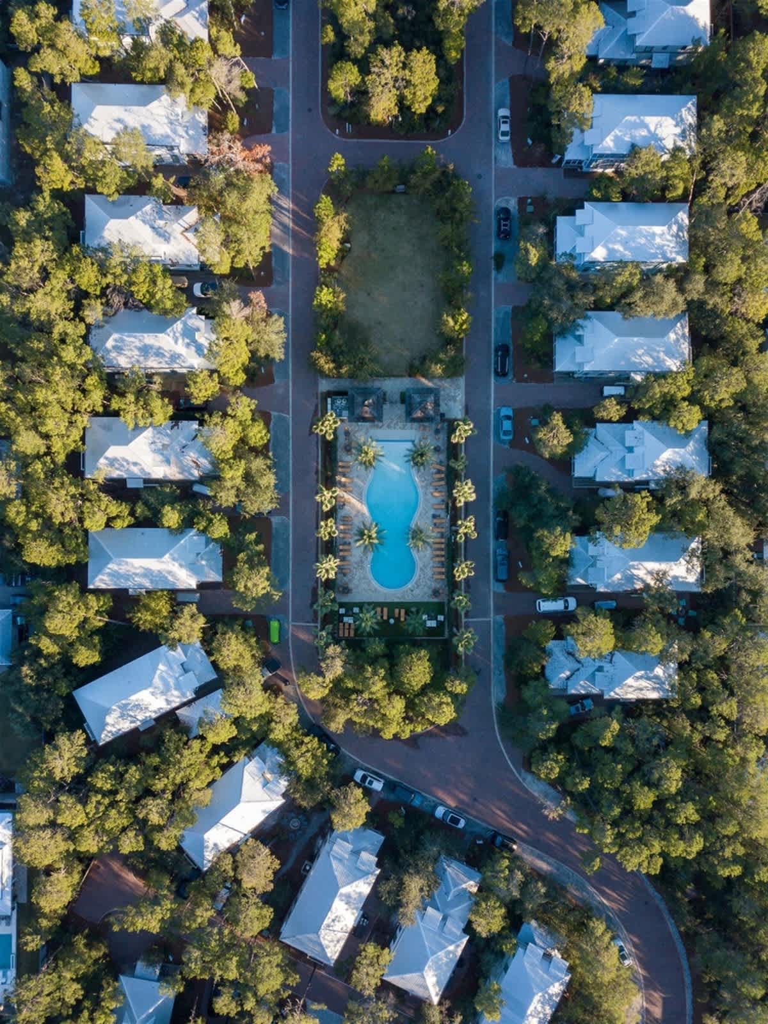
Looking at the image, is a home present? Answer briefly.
Yes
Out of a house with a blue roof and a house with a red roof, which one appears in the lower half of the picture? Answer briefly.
house with a blue roof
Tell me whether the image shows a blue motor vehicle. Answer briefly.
Yes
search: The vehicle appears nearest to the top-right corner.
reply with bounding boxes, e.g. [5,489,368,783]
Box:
[497,106,513,140]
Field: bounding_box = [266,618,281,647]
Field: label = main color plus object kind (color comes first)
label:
green car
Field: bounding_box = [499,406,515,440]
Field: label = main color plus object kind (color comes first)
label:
blue car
